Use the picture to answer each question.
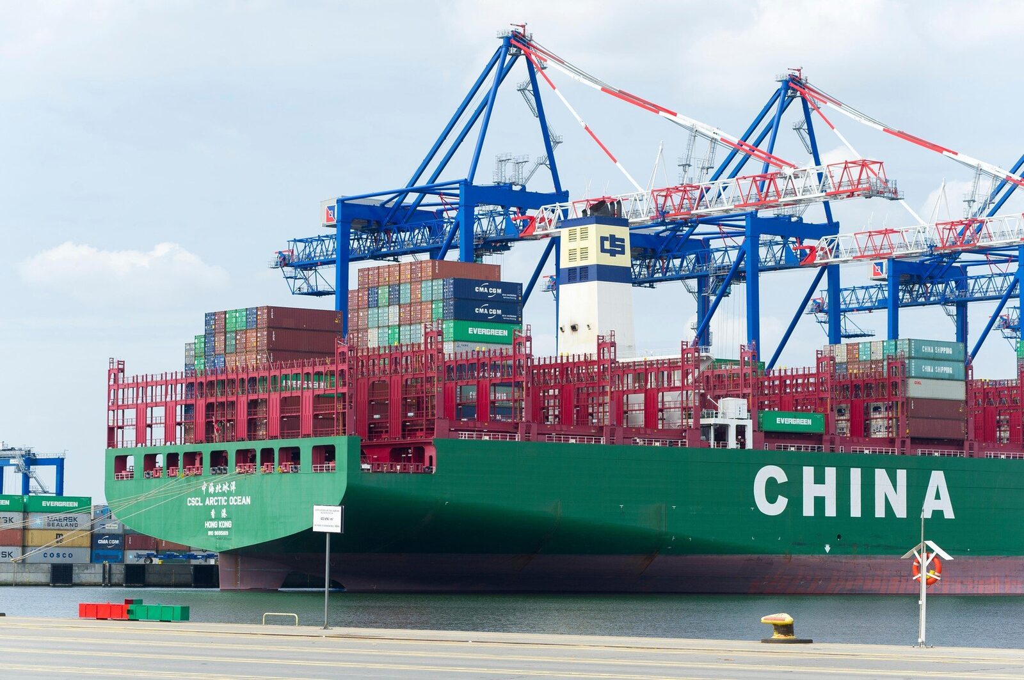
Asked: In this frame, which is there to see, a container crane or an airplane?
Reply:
container crane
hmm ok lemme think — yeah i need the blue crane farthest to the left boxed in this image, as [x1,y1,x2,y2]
[0,442,70,497]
